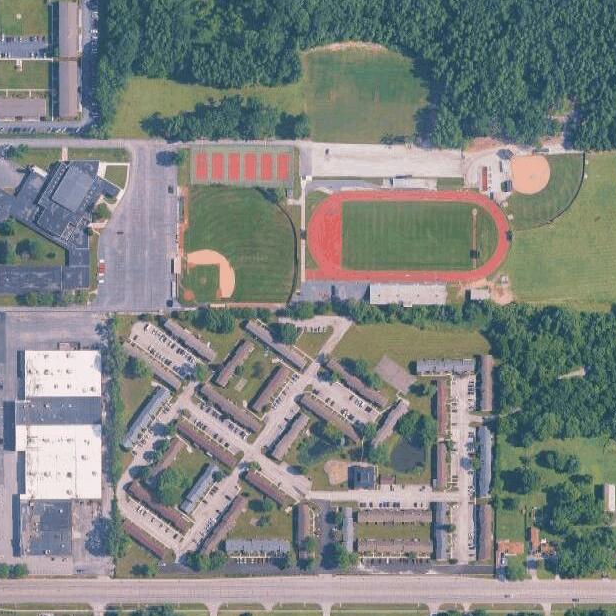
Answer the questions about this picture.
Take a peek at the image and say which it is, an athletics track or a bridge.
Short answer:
athletics track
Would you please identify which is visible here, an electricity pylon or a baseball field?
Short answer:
baseball field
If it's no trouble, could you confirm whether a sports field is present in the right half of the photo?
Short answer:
Yes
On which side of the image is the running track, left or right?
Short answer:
right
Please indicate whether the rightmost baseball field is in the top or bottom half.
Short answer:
top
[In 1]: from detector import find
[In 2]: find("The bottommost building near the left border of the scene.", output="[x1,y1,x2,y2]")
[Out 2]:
[21,499,72,556]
